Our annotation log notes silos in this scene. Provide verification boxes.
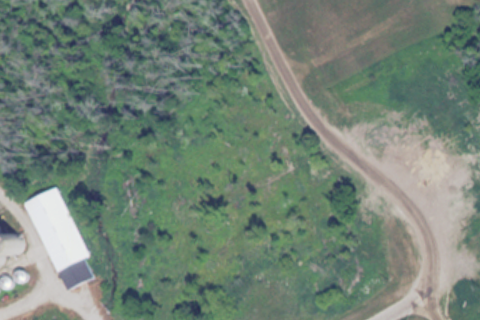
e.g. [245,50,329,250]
[13,270,30,286]
[0,276,15,292]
